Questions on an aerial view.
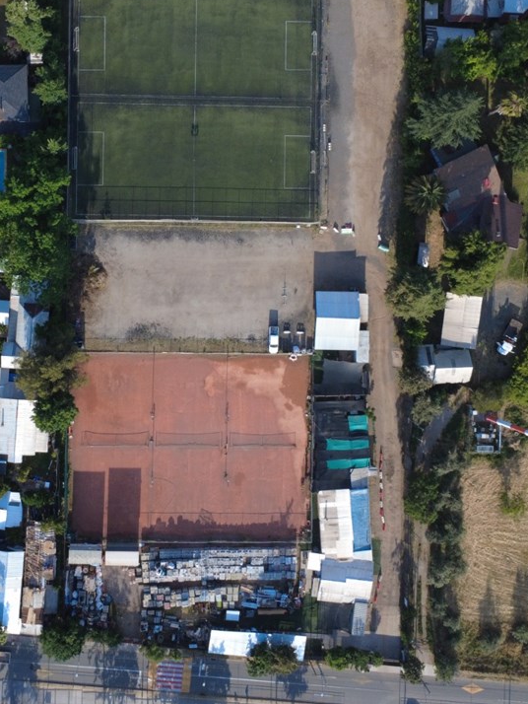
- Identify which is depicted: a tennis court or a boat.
tennis court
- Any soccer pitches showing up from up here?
Yes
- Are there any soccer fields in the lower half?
No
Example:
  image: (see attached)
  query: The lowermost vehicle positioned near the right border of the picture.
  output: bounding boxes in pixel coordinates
[496,318,521,354]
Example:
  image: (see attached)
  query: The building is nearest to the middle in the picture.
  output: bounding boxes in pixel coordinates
[313,290,370,363]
